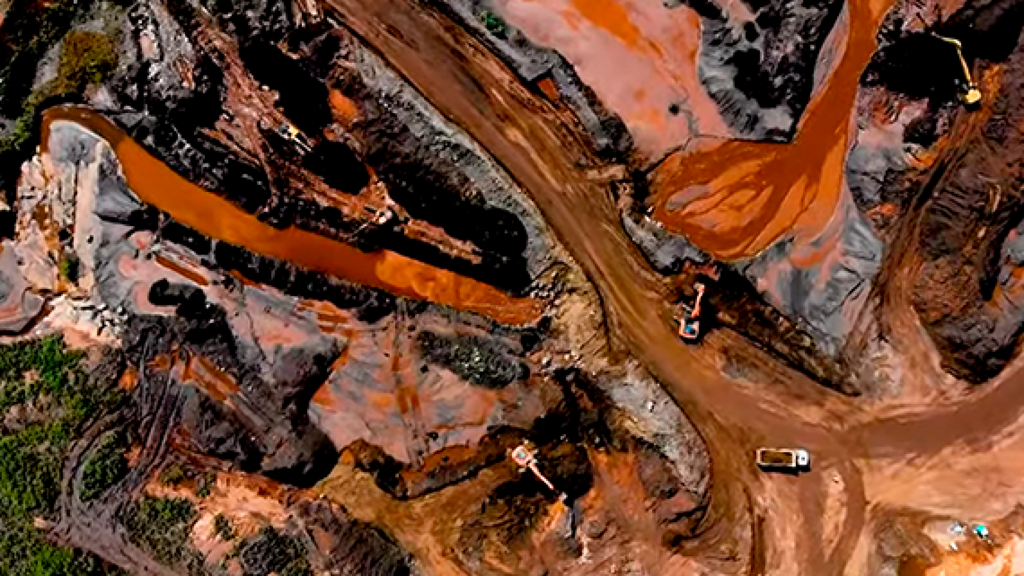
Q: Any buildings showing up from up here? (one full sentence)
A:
No, no building is visible in the view.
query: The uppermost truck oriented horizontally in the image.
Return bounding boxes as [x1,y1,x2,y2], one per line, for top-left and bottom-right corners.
[754,446,809,468]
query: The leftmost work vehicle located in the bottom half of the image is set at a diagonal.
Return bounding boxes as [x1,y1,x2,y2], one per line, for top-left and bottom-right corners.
[510,444,558,493]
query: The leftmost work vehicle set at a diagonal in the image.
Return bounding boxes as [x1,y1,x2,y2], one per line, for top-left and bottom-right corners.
[284,123,312,151]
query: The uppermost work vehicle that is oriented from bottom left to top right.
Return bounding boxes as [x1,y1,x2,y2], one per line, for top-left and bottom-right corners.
[357,203,395,233]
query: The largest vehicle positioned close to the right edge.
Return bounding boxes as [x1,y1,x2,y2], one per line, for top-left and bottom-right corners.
[931,32,982,106]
